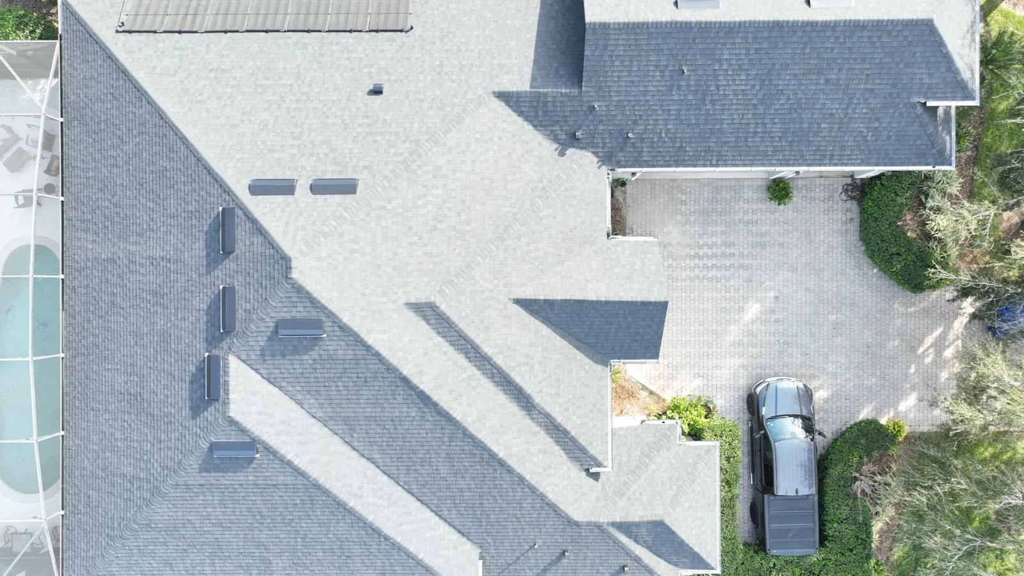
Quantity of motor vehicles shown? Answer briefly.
1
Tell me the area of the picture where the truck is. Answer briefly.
bottom right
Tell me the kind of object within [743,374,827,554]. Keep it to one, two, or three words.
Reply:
truck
